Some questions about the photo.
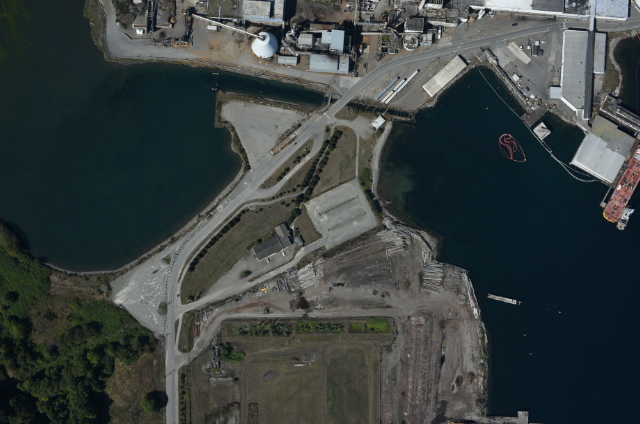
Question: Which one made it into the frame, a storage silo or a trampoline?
storage silo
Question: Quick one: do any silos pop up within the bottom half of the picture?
No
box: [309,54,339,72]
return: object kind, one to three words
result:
building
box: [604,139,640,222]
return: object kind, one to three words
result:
ship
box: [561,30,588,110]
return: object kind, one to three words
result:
building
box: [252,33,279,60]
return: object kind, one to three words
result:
silo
